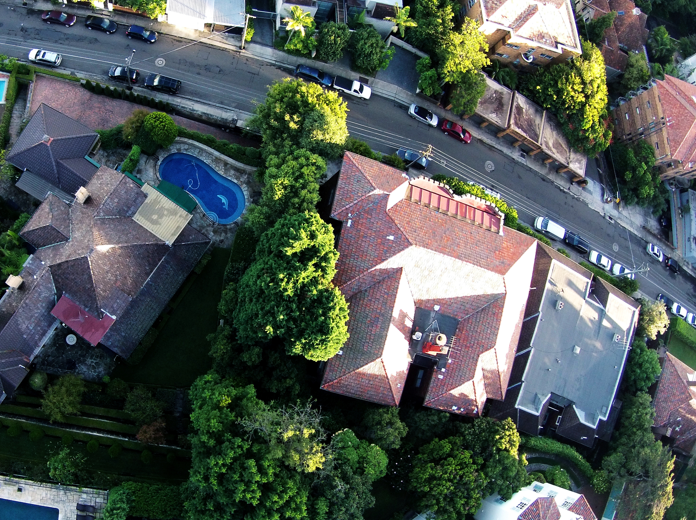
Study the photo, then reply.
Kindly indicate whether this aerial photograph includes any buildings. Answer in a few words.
Yes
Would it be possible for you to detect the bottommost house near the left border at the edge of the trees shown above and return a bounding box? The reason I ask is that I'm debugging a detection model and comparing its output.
[0,102,212,405]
